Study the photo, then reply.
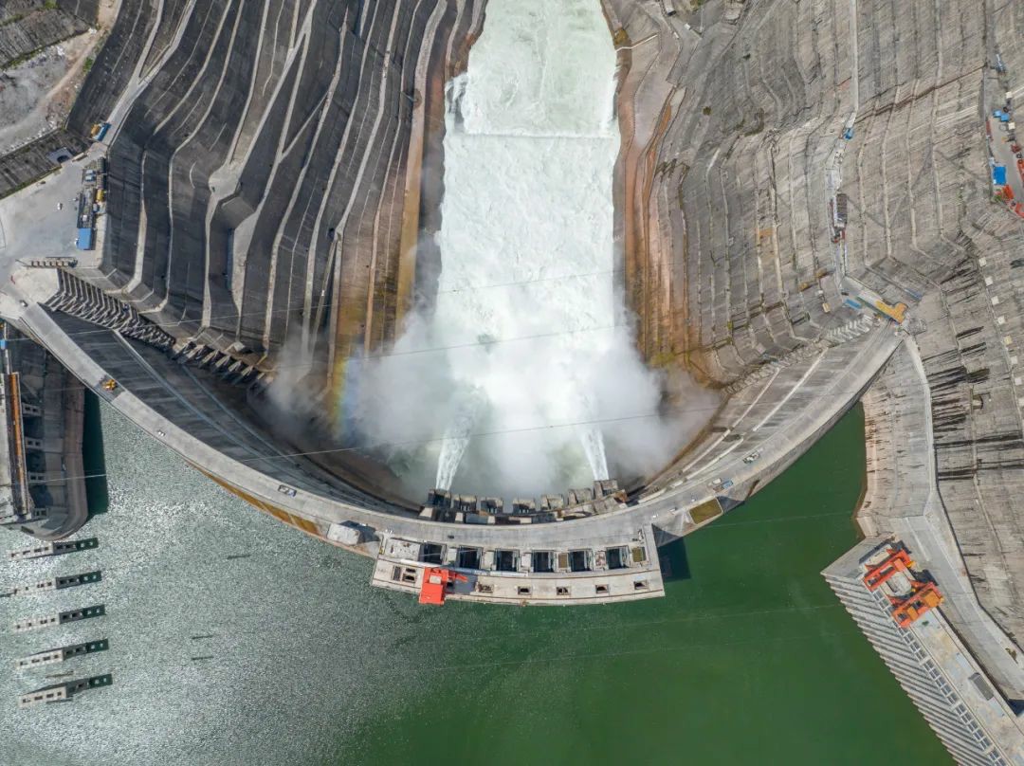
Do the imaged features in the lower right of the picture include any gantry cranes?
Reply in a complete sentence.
Yes, a gantry crane shows up in the lower right of the picture.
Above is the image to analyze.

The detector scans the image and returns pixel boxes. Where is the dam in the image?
[0,278,914,606]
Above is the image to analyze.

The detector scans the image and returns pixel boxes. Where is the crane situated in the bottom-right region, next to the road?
[850,547,948,628]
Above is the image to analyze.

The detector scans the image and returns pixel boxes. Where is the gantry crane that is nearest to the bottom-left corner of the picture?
[421,566,466,605]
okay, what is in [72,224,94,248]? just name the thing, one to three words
shed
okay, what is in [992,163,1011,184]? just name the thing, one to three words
shed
